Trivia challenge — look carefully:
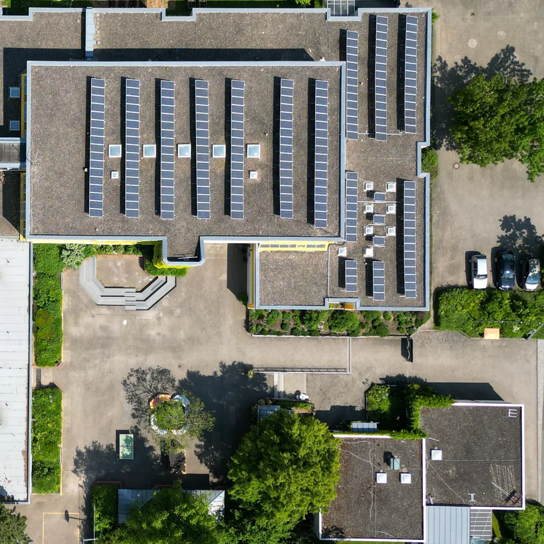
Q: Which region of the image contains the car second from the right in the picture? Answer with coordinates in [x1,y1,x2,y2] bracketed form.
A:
[494,251,518,290]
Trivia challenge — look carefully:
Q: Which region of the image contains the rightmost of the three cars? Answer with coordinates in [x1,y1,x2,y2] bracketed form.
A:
[519,256,543,291]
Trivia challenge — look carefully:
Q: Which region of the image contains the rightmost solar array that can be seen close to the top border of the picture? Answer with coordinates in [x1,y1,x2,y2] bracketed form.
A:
[400,13,419,133]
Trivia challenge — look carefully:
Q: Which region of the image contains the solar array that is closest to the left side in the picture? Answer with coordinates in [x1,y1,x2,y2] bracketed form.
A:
[88,76,107,216]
